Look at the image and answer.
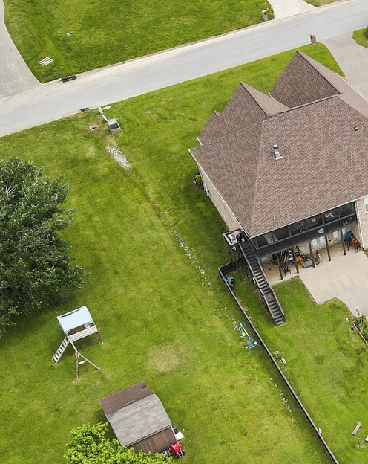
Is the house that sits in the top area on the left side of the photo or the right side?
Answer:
right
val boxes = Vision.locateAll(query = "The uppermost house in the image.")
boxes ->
[189,51,368,279]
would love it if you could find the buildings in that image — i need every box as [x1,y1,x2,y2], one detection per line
[101,381,174,457]
[189,51,368,279]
